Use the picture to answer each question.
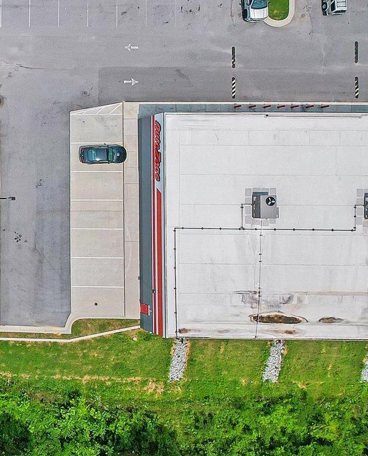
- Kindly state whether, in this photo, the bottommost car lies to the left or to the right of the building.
to the left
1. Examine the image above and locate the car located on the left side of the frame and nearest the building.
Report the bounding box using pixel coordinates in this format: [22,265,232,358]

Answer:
[79,143,127,165]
